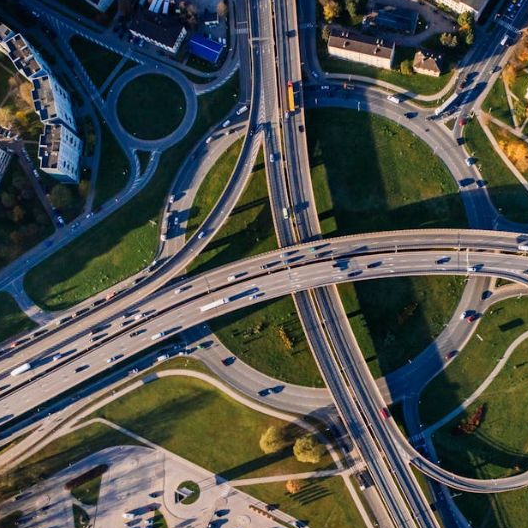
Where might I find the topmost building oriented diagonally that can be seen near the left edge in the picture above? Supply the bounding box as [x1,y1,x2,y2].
[5,33,63,84]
